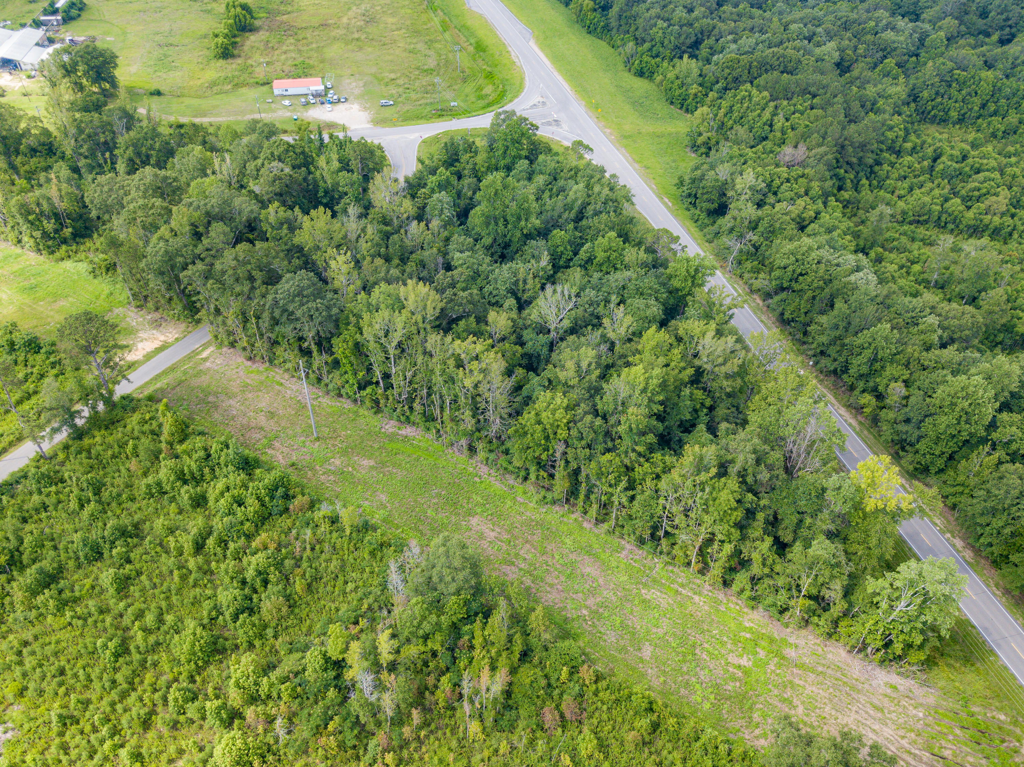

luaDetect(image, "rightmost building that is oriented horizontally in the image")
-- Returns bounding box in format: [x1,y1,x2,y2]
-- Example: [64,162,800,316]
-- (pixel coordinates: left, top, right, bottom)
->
[272,81,326,100]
